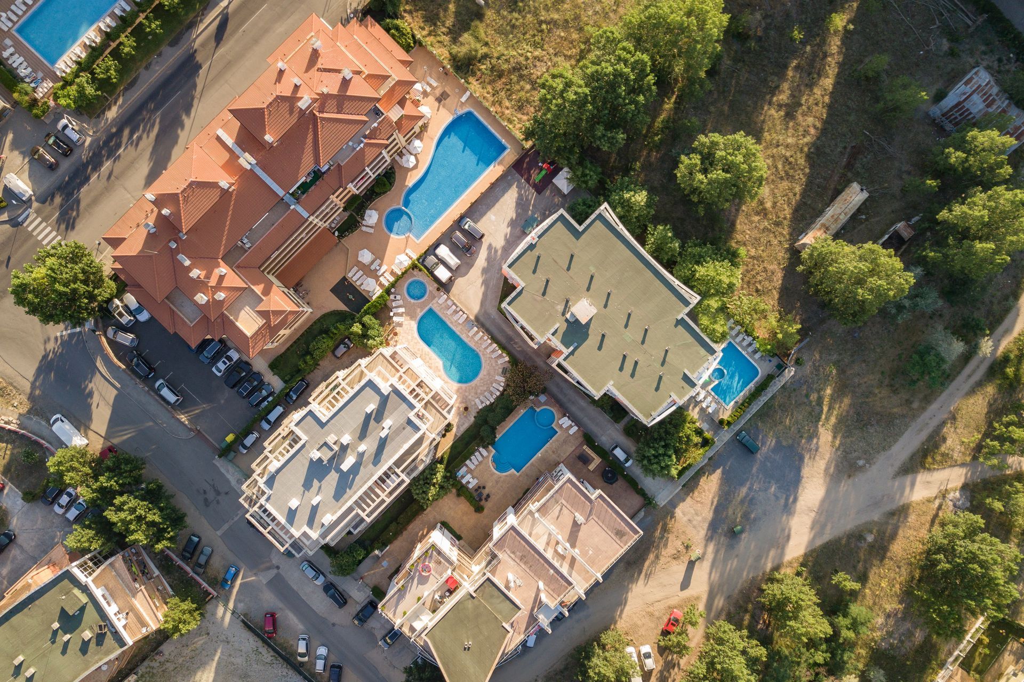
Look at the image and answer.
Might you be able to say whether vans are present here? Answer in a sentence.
Yes, there's a van down there.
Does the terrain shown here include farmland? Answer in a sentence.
No, the picture contains no farmland.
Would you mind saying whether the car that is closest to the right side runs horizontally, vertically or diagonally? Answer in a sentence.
What the image shows is the car that is closest to the right side lying diagonally.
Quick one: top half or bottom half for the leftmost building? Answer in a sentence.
The leftmost building sits in the bottom half of the picture.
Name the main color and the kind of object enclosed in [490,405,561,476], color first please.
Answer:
blue swimming pool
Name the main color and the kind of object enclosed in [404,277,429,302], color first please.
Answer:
blue swimming pool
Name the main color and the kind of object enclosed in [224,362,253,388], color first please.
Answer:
black car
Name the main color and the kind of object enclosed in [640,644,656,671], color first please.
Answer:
white car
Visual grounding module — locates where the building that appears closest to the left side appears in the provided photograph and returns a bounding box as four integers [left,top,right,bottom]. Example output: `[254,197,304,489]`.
[0,540,187,682]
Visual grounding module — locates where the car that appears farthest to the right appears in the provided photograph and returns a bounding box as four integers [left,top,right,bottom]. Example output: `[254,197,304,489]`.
[734,430,762,456]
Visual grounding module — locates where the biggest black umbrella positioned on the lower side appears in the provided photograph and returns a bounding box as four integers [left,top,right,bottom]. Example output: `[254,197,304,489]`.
[601,466,619,485]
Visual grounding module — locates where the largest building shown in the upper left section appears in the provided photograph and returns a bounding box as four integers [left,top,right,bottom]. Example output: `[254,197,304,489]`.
[101,12,434,359]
